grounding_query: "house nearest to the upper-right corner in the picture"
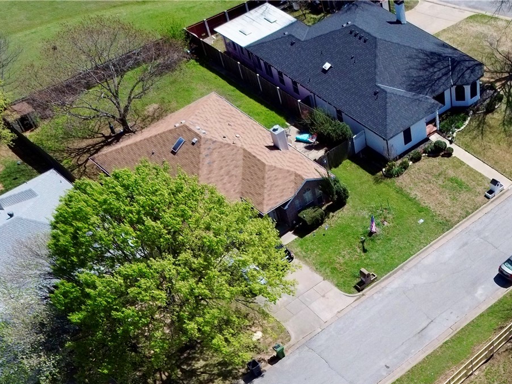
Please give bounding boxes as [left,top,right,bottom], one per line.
[214,0,488,156]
